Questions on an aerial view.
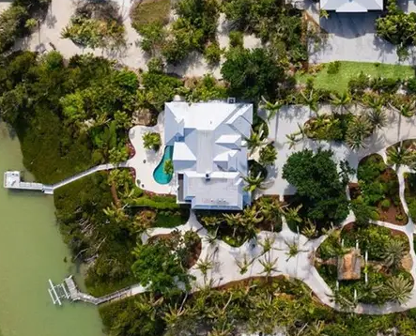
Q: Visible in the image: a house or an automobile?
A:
house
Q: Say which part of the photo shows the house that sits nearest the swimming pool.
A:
center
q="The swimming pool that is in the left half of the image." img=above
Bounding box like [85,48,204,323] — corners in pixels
[152,145,175,186]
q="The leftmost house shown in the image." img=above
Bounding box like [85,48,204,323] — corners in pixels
[165,93,253,210]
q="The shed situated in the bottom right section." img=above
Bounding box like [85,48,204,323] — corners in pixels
[338,246,361,288]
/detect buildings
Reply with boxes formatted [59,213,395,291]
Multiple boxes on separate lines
[338,246,361,288]
[319,0,384,12]
[165,93,253,210]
